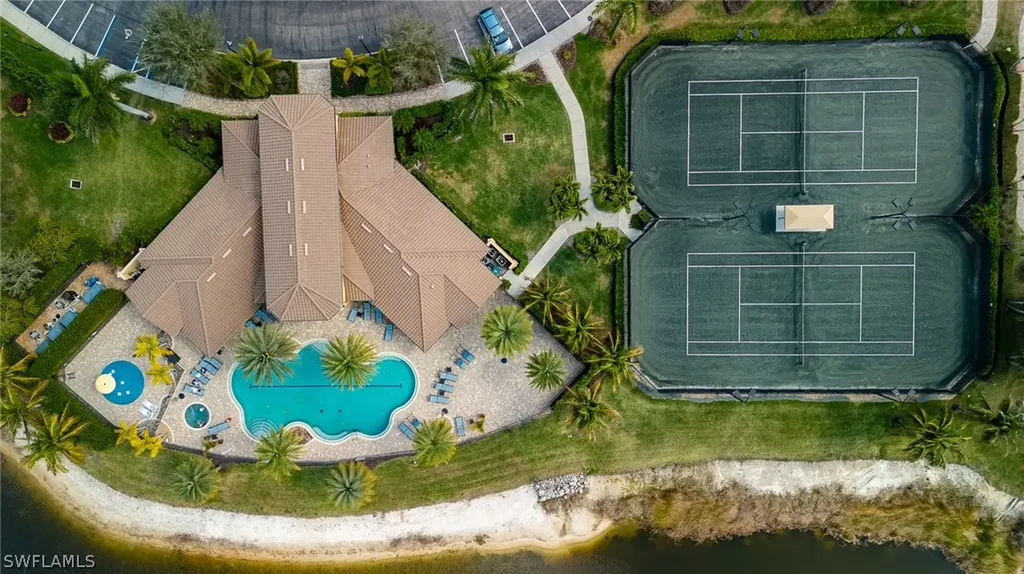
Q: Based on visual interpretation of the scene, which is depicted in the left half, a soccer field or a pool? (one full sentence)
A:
The feature located in the left half is a pool.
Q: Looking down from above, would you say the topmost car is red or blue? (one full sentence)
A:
From above, the topmost car appears blue.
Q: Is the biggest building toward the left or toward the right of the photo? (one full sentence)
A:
The biggest building sits on the left side.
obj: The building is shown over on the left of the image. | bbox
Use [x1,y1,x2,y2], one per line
[126,95,503,360]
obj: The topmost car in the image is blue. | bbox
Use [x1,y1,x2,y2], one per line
[479,7,511,54]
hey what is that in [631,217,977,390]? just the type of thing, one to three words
tennis court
